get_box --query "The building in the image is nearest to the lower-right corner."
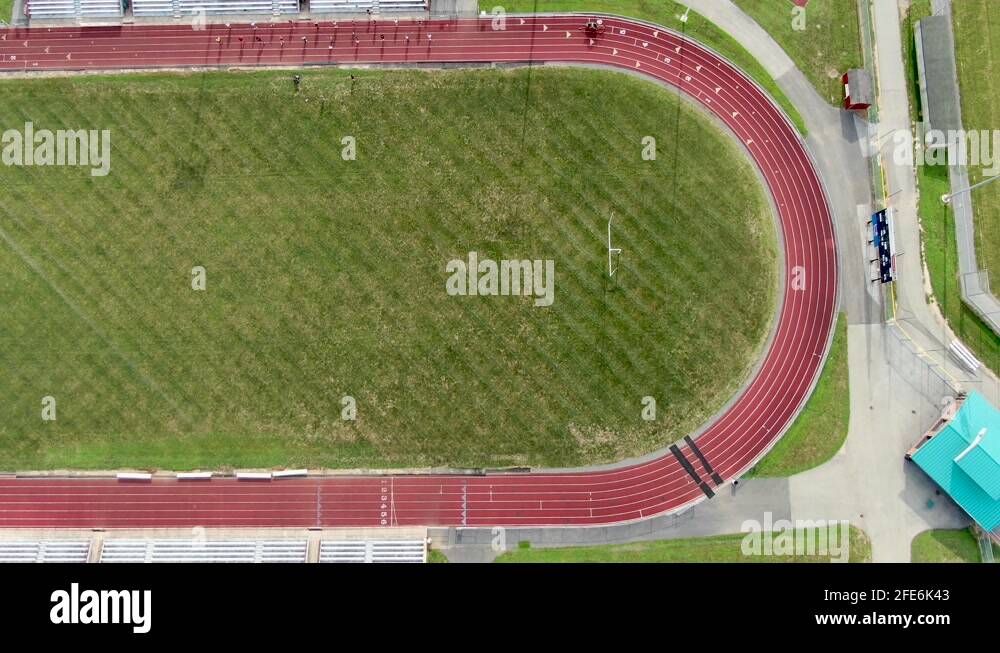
[907,390,1000,530]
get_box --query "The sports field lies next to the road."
[0,67,778,469]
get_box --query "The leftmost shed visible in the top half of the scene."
[842,66,874,109]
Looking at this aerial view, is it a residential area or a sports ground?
sports ground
